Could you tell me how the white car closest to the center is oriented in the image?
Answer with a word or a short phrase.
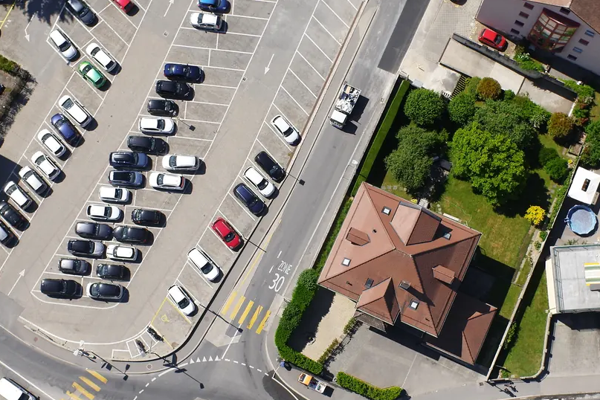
at an angle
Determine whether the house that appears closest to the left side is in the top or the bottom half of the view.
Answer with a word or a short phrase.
bottom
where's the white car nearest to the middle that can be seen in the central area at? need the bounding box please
[241,164,274,200]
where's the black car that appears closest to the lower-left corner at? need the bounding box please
[38,279,83,299]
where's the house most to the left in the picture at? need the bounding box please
[317,181,498,365]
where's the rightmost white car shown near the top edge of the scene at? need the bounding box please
[190,6,223,34]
